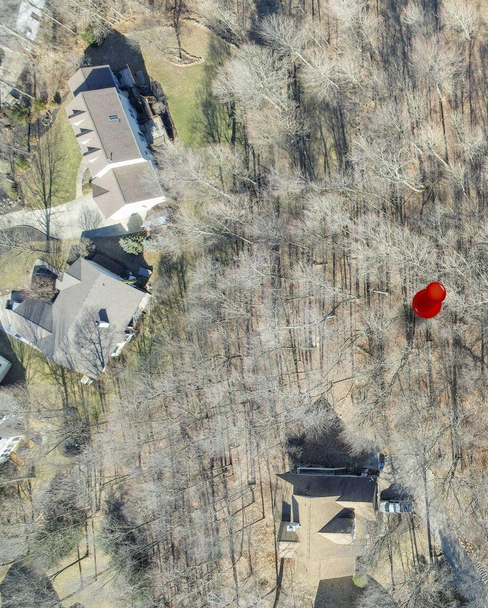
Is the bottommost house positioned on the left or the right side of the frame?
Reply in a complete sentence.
The bottommost house appears in the right half of the scene.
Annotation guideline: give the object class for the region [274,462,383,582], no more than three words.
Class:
house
